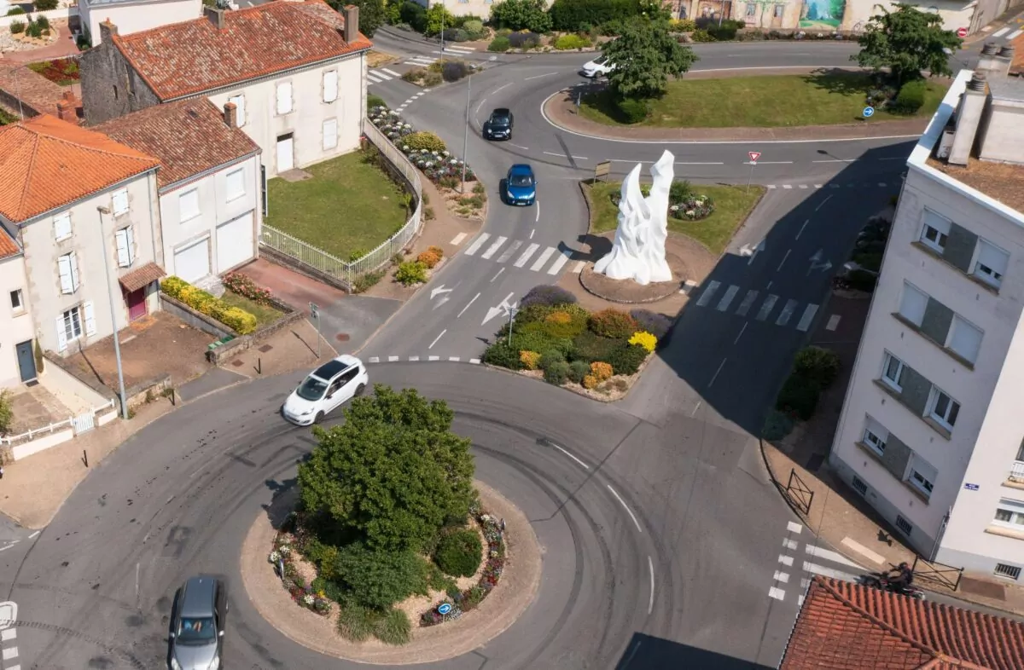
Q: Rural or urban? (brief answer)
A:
urban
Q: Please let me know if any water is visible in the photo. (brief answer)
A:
No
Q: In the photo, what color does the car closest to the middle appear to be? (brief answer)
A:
blue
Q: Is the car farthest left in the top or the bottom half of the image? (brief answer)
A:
bottom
